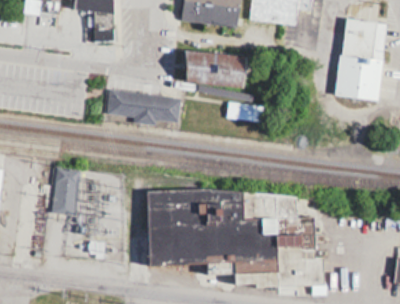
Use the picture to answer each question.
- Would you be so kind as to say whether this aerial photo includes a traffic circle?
No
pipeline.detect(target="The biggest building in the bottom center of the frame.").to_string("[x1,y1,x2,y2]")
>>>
[148,188,272,266]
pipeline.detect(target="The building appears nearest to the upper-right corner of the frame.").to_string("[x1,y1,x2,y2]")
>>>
[342,18,387,59]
